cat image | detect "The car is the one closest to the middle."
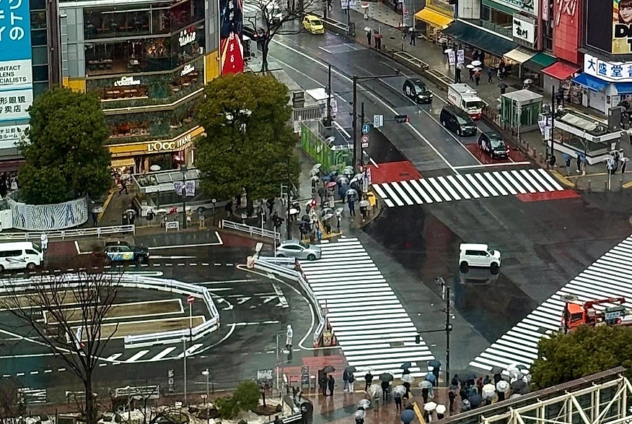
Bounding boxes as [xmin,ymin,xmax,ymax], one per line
[272,237,327,260]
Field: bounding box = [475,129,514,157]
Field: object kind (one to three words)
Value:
car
